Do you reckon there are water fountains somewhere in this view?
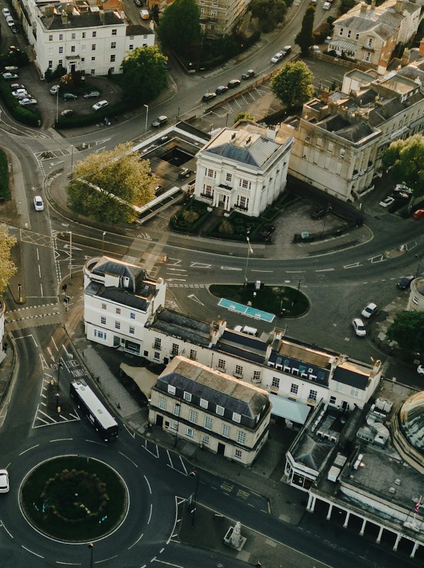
Yes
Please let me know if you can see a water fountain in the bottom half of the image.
Yes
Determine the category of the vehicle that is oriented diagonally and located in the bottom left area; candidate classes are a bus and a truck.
bus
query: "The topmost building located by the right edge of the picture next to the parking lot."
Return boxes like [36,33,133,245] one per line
[325,0,424,72]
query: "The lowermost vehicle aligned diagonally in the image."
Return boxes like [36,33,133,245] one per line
[67,381,125,445]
